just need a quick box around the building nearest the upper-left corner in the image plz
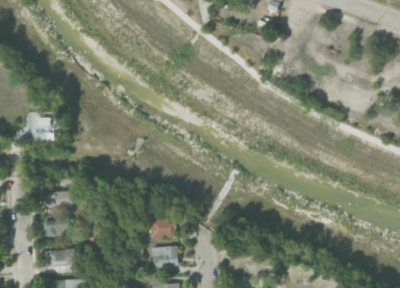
[28,112,54,141]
